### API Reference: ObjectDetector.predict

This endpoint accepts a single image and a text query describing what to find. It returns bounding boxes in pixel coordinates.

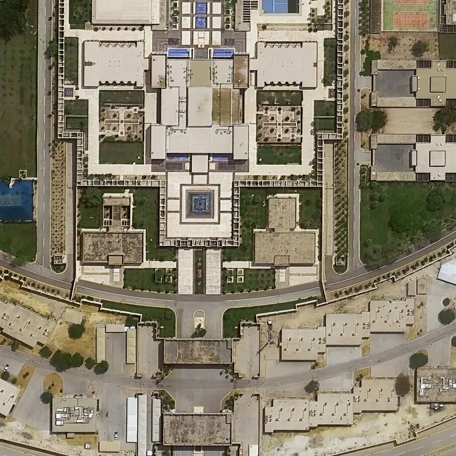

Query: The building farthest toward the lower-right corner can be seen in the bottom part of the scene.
[417,367,456,403]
